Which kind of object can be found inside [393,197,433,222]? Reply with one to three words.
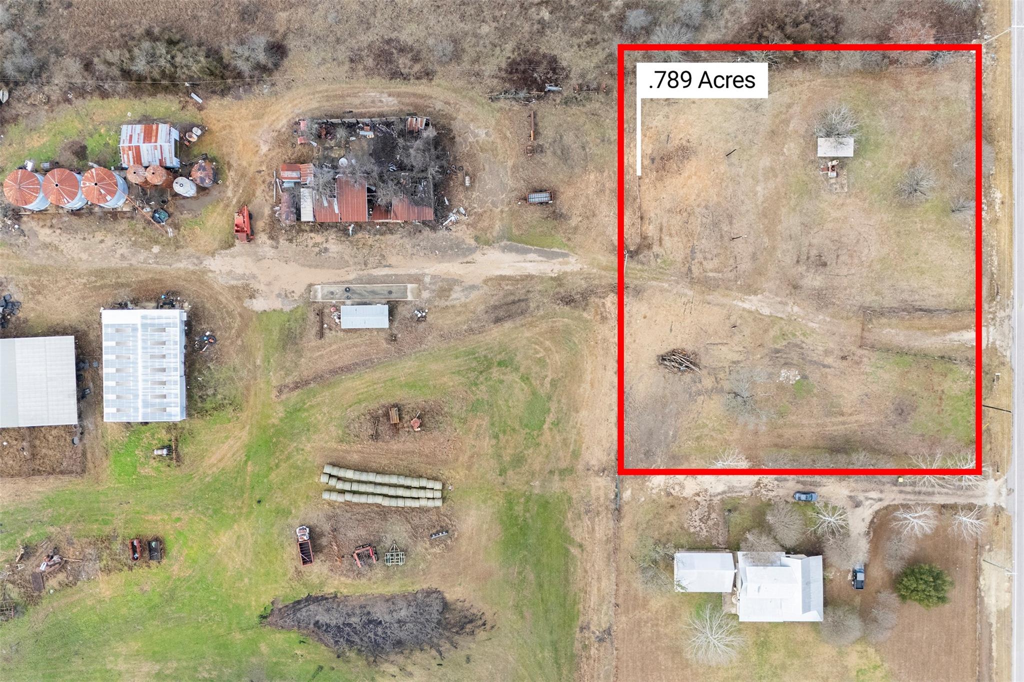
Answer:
shed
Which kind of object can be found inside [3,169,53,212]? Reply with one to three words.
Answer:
silo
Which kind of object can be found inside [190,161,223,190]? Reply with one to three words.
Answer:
silo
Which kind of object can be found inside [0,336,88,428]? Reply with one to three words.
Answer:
barn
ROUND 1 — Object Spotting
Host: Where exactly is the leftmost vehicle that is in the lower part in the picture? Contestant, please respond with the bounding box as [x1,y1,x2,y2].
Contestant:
[295,525,314,567]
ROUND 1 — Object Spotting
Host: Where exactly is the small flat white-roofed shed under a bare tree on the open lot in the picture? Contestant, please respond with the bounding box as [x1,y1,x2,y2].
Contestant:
[812,138,853,159]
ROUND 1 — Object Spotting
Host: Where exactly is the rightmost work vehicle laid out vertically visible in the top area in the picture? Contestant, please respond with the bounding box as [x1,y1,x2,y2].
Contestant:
[234,205,254,245]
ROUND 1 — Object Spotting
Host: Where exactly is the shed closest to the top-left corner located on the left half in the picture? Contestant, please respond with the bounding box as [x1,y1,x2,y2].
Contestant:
[119,124,181,170]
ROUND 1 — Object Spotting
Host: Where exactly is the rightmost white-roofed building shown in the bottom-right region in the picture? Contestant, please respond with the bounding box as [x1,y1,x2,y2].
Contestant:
[735,549,823,626]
